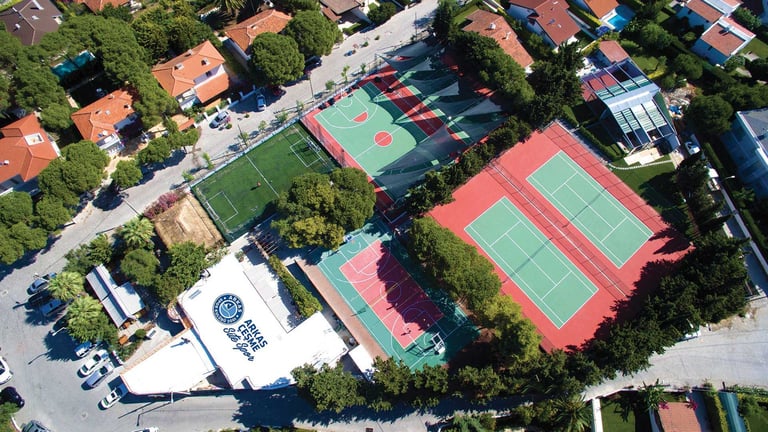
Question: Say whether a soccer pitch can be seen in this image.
Yes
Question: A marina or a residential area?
residential area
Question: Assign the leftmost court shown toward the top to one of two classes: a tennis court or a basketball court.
basketball court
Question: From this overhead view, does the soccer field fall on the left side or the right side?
left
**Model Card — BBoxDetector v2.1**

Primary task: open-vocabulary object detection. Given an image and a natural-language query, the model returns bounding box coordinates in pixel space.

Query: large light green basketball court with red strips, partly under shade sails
[302,40,510,214]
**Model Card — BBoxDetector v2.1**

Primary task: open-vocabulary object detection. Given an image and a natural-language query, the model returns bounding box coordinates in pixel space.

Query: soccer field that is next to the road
[189,119,338,236]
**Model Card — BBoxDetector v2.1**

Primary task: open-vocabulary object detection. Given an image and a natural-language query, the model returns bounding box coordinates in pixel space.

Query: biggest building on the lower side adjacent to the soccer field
[119,253,348,396]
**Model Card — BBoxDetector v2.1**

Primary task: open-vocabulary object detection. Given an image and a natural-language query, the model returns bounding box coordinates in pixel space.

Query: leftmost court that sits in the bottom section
[307,209,478,388]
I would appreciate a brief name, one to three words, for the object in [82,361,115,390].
car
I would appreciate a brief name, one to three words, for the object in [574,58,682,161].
house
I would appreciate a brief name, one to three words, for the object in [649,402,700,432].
house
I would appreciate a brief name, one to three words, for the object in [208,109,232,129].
car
